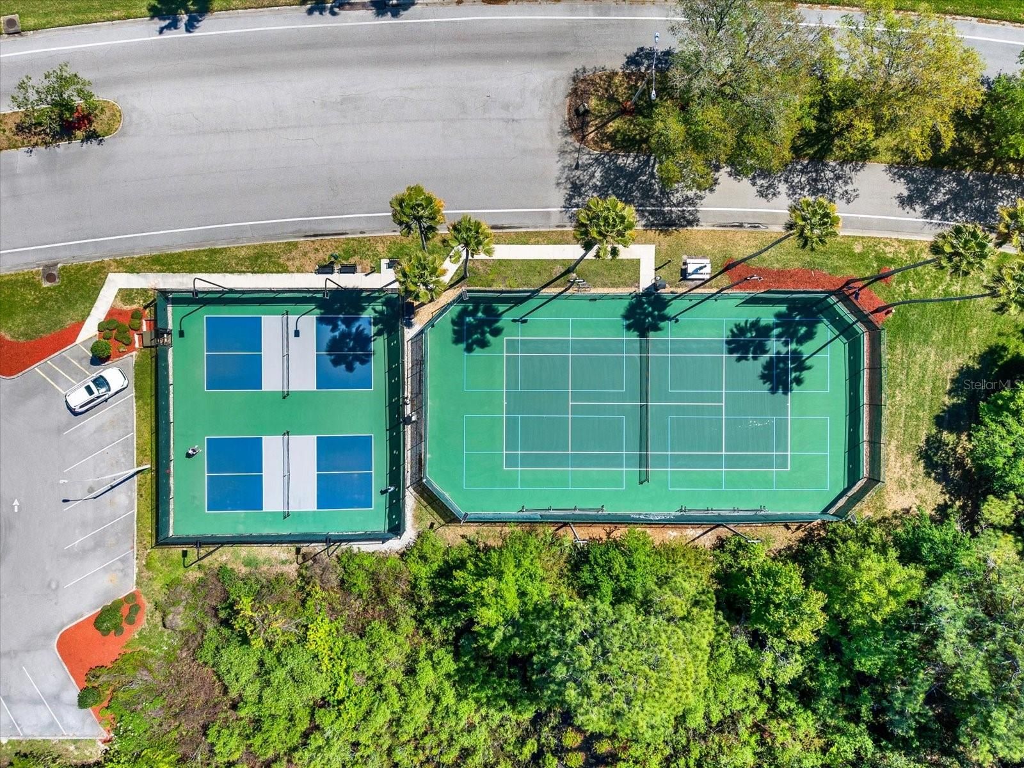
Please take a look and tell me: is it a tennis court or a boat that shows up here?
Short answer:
tennis court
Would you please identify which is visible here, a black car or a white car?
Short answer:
white car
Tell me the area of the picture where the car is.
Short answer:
left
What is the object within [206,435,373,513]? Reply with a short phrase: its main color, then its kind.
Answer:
blue sports court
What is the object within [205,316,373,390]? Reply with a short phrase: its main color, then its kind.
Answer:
blue sports court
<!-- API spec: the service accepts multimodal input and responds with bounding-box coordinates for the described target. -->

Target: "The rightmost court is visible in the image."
[427,295,865,513]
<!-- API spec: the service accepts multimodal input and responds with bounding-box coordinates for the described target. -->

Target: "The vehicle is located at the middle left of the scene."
[65,370,128,413]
